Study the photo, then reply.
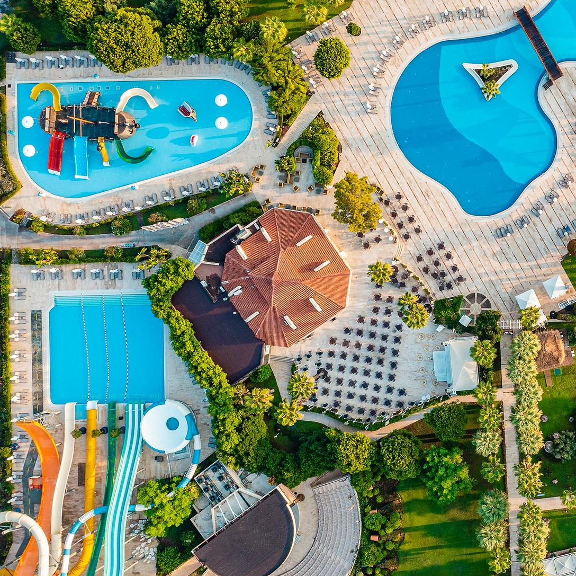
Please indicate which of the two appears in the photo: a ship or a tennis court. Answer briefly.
ship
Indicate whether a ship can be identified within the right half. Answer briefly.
No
